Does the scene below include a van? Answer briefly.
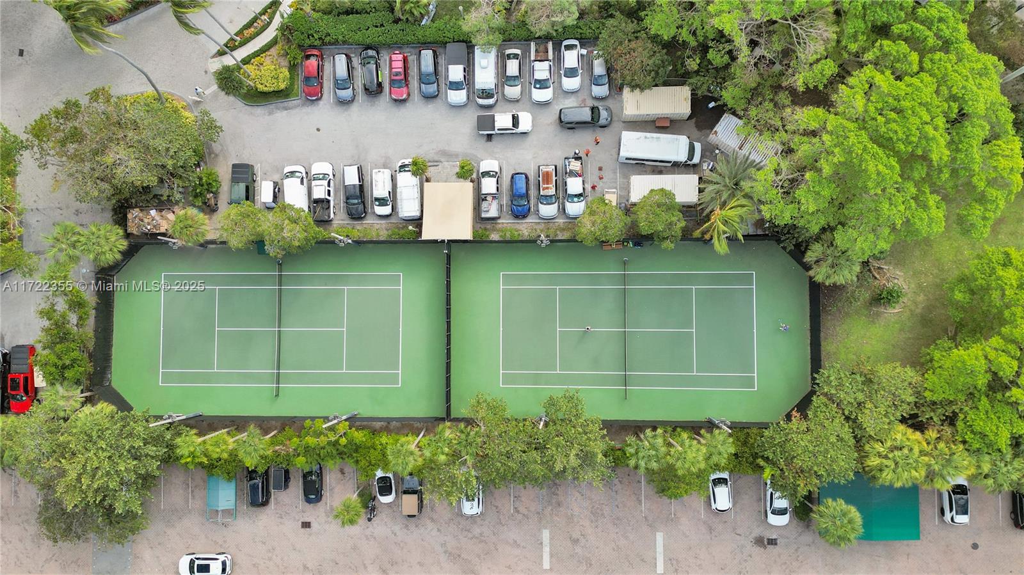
Yes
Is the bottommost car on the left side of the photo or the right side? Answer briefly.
left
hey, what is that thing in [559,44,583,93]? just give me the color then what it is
white car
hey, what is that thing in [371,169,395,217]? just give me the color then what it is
white vehicle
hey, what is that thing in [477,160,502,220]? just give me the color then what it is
white truck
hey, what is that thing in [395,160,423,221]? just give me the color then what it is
white van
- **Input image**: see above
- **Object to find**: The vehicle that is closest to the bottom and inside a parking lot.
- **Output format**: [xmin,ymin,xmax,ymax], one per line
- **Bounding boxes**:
[181,551,234,575]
